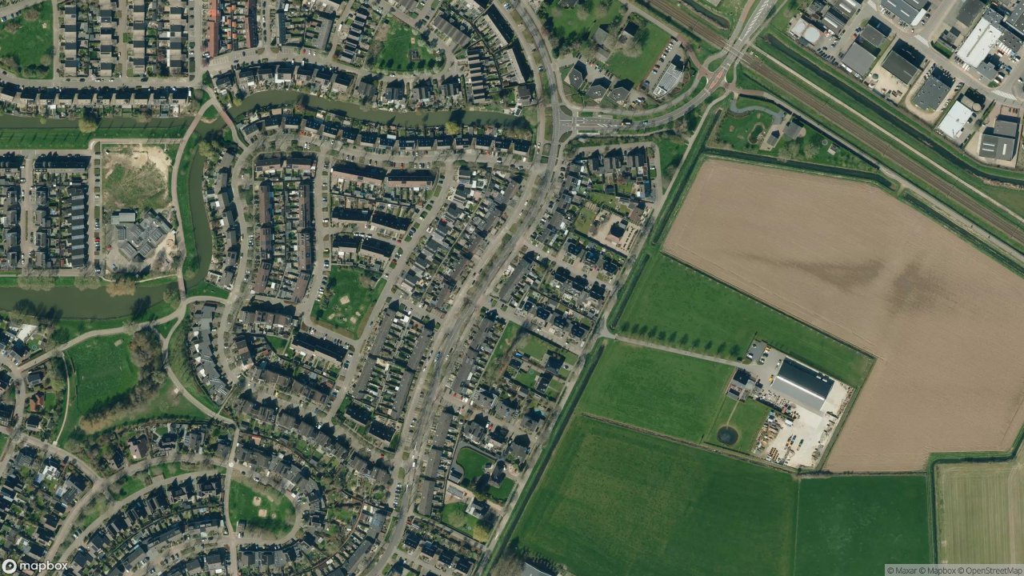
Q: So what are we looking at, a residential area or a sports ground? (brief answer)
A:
residential area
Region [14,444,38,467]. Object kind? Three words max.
house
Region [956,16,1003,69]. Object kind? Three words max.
building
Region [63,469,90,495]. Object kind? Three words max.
house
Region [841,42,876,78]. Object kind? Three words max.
building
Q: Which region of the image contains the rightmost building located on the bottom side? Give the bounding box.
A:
[772,367,830,411]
